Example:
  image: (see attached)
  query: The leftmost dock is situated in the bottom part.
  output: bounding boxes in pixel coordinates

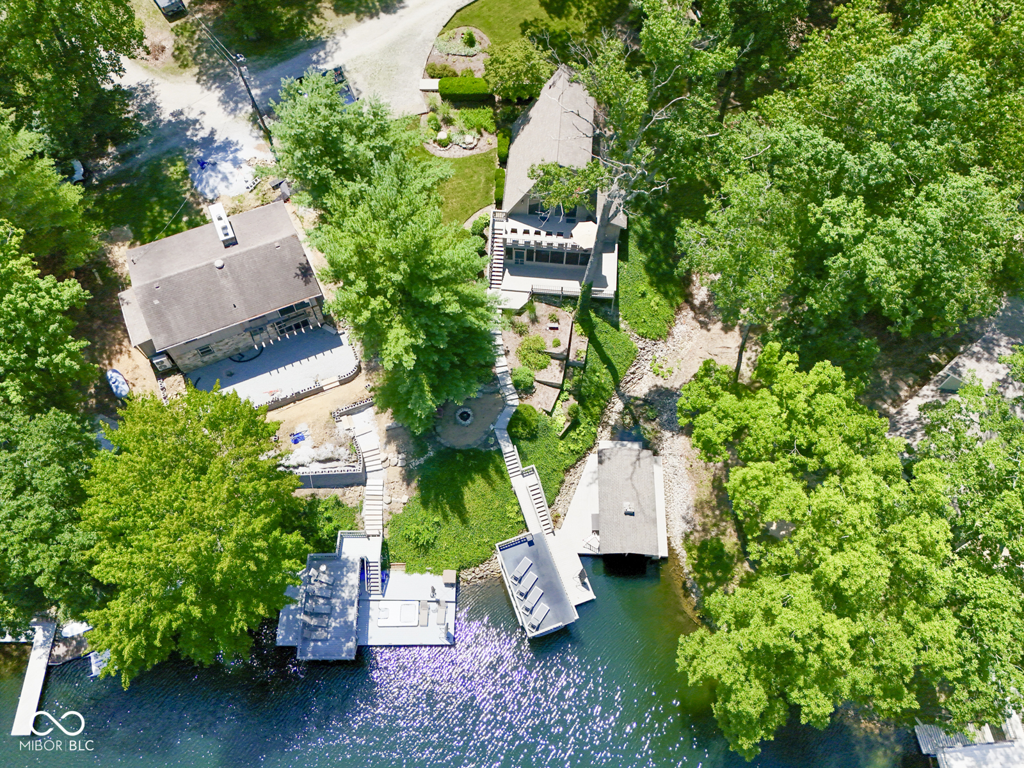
[0,624,54,736]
